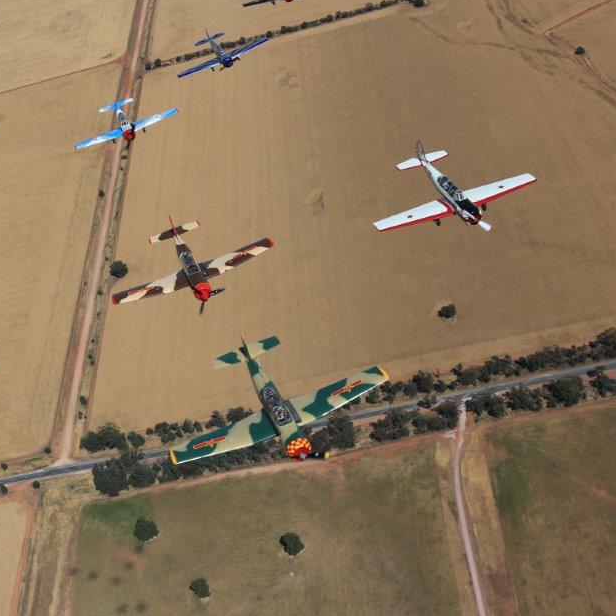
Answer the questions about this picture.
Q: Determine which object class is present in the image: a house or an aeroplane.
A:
aeroplane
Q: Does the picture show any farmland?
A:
Yes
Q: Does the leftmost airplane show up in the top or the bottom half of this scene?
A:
top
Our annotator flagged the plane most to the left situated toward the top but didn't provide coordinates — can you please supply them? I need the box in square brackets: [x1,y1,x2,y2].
[75,94,177,148]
